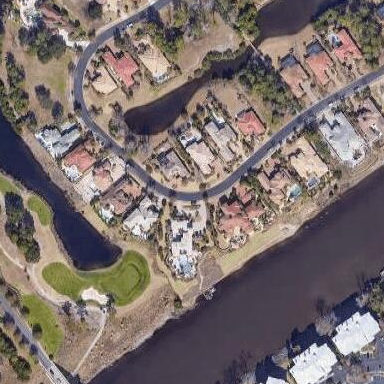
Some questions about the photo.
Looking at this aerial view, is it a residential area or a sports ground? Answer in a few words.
residential area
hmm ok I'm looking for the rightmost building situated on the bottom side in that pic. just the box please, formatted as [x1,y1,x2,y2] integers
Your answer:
[332,312,380,356]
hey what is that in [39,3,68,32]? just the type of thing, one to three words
house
